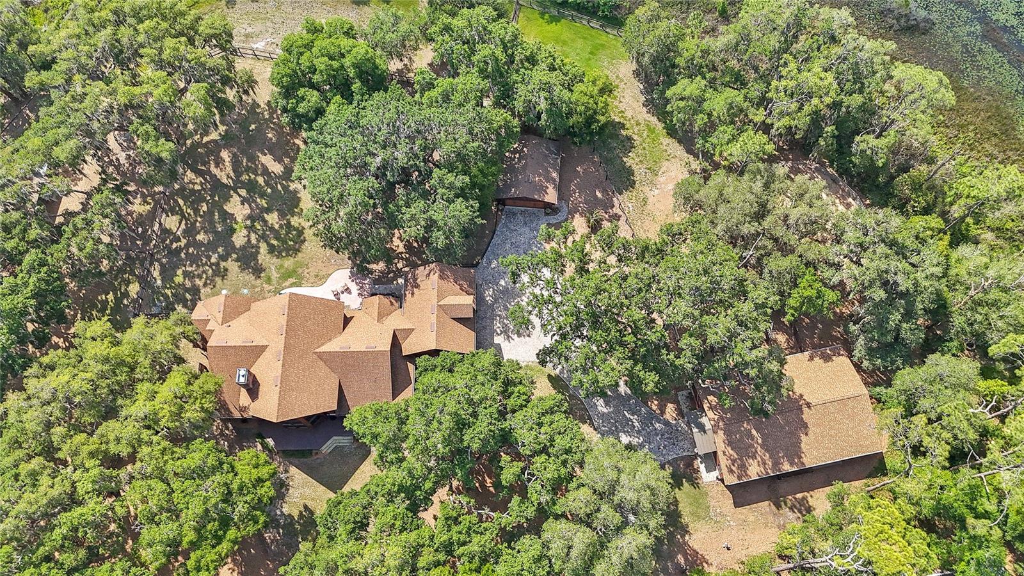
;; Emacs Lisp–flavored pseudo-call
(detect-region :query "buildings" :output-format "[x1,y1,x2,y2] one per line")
[192,264,477,428]
[695,345,882,486]
[497,135,562,212]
